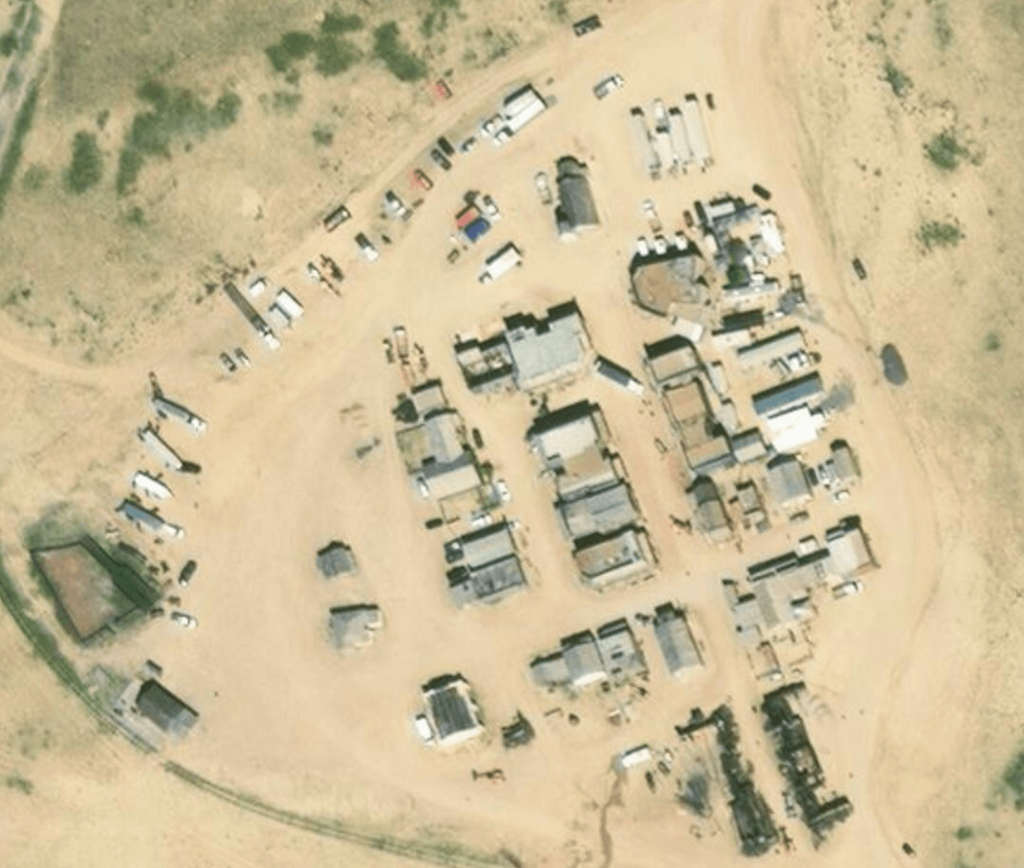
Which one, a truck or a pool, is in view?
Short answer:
truck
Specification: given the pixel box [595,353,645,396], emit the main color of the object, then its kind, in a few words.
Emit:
gray truck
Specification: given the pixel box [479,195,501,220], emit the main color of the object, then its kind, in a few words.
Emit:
white car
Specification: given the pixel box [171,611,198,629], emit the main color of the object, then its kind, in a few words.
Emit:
white vehicle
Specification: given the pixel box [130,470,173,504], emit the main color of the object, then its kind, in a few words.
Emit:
white camper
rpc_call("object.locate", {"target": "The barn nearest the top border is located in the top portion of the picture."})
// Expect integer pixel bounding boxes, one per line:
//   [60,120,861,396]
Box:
[557,164,599,236]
